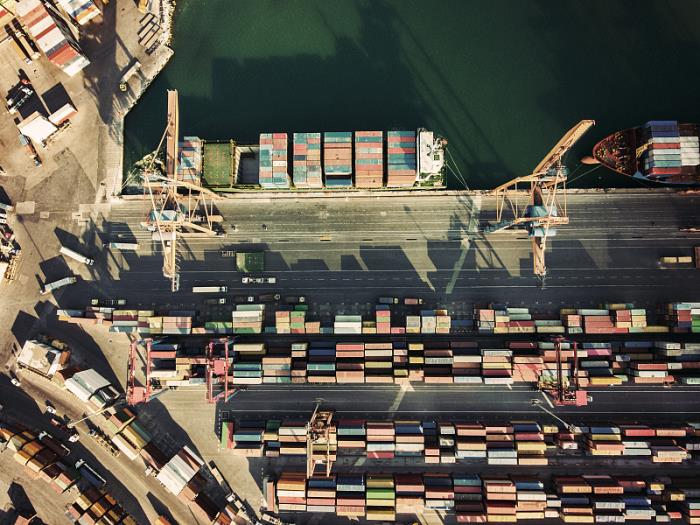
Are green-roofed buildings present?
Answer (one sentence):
No, no green-roofed building is visible in the scene.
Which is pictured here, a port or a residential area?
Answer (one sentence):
This looks like a port.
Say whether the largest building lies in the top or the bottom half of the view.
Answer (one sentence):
Seen from above, the largest building lies in the bottom half of the view.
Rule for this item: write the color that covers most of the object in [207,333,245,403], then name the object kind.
red container crane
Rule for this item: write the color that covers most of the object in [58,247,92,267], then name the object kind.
white vehicle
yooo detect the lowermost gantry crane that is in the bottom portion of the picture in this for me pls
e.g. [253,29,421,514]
[305,400,338,478]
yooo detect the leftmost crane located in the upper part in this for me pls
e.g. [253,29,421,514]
[144,93,228,296]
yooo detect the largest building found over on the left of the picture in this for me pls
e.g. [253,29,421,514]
[18,340,66,377]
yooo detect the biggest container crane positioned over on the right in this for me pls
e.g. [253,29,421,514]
[487,113,590,273]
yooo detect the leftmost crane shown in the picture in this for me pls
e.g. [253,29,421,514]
[129,334,173,404]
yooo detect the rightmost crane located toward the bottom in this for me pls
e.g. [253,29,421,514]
[537,332,581,404]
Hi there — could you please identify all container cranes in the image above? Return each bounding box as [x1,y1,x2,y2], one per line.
[487,113,590,273]
[207,333,245,403]
[129,334,173,404]
[144,93,228,296]
[537,332,581,404]
[305,400,338,478]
